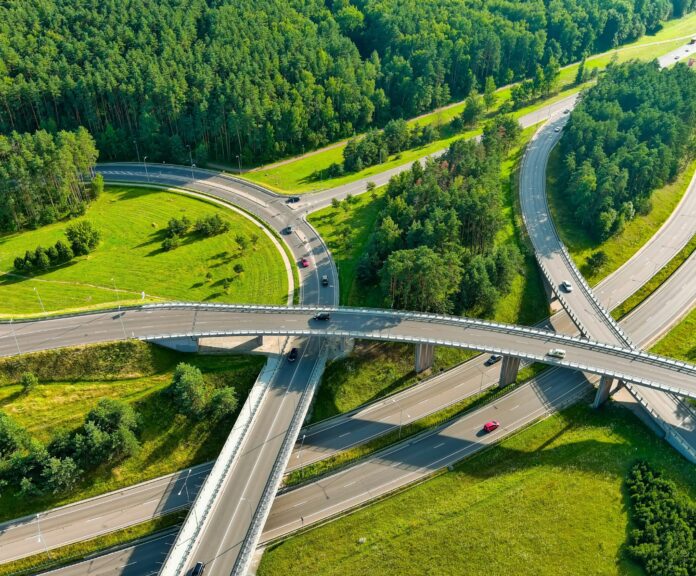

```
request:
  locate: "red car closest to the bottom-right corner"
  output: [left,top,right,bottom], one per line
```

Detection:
[481,421,499,433]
